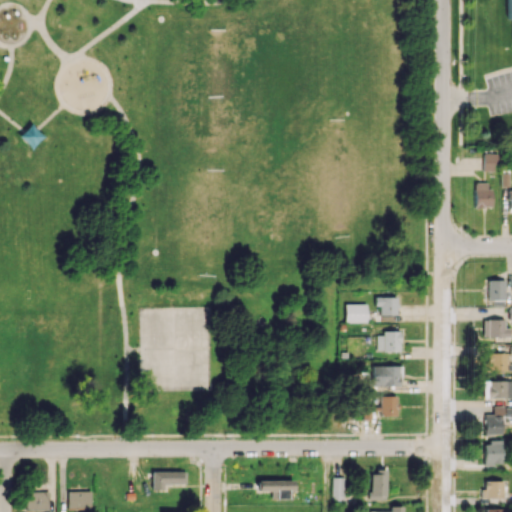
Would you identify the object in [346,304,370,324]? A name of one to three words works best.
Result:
building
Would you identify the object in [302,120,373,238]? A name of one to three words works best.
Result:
sports field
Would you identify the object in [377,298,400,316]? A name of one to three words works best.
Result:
house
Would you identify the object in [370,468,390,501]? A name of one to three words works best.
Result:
house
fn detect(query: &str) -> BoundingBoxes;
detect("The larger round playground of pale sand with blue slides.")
[54,56,113,116]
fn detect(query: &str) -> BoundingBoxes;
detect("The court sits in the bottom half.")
[140,308,210,392]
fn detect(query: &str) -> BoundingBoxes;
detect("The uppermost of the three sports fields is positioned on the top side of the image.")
[191,30,242,98]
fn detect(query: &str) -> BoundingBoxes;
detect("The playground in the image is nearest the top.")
[0,2,32,48]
